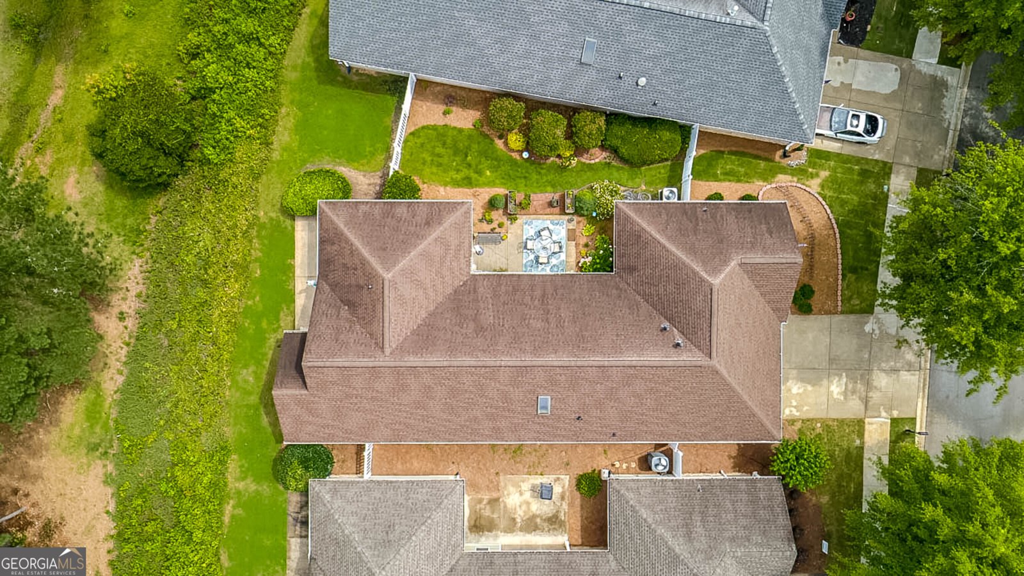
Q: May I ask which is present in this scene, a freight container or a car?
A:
car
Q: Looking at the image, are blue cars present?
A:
No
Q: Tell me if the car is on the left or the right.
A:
right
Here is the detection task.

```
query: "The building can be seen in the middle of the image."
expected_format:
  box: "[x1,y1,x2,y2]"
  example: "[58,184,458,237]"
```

[272,199,802,445]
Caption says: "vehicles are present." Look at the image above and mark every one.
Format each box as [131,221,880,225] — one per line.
[814,100,891,145]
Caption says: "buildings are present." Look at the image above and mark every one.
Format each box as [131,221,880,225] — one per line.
[319,0,845,155]
[308,469,795,576]
[272,199,802,445]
